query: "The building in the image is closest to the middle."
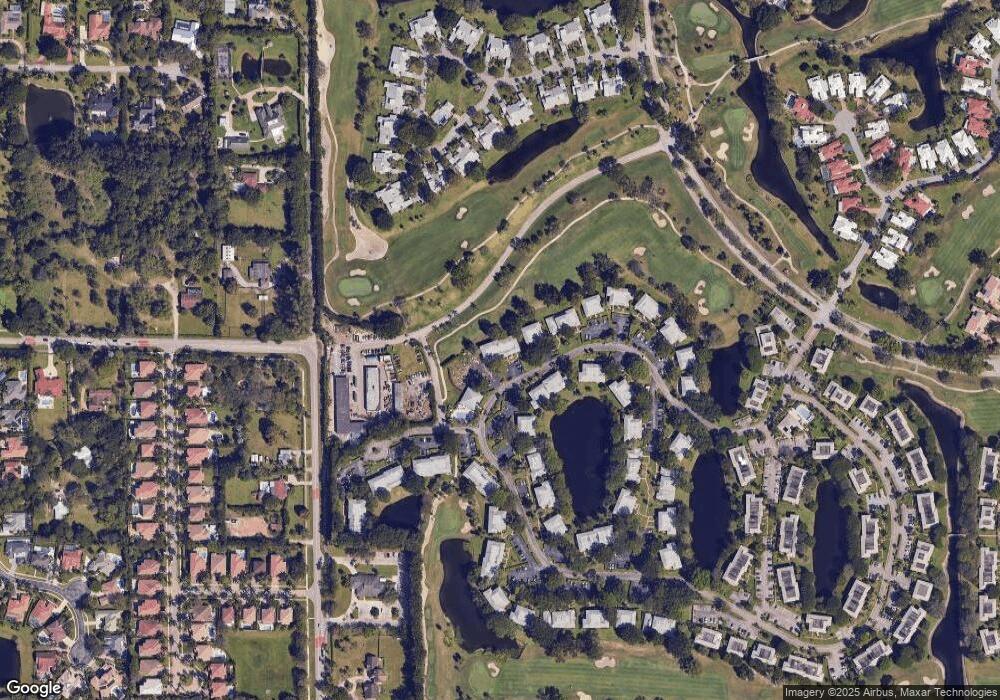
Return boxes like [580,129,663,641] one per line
[480,334,521,361]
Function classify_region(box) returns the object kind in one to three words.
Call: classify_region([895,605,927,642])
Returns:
building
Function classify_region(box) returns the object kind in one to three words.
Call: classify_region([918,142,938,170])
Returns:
house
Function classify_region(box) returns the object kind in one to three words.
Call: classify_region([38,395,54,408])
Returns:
swimming pool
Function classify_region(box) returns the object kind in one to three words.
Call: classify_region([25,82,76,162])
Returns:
pond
